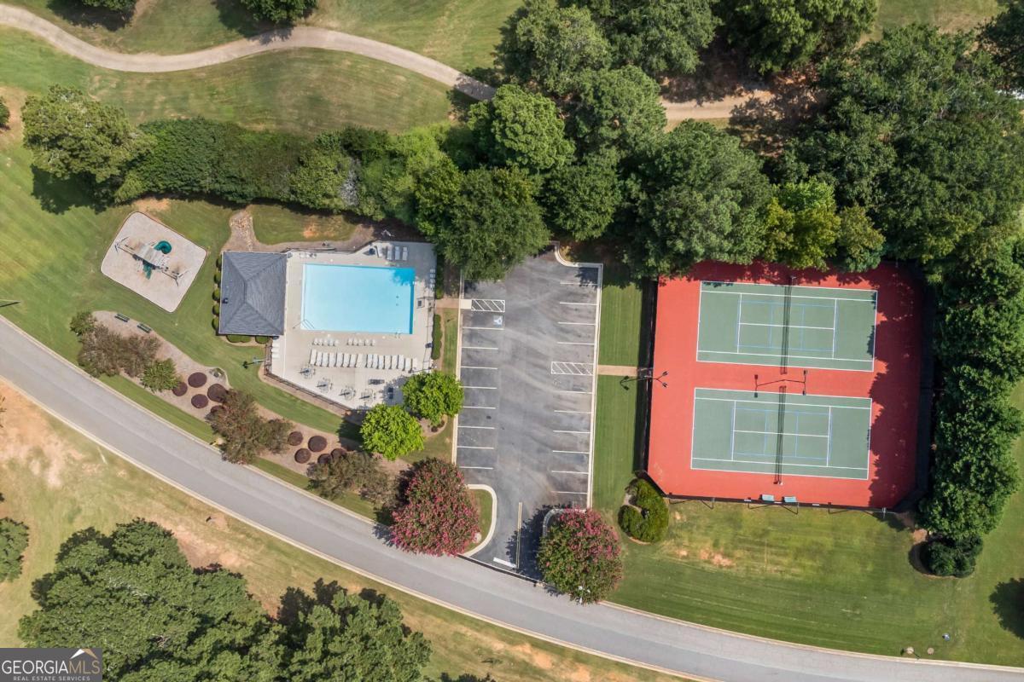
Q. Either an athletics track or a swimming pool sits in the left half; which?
swimming pool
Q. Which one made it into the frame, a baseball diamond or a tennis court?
tennis court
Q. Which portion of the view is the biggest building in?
left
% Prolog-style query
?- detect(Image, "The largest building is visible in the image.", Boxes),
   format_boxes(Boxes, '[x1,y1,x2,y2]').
[218,250,294,336]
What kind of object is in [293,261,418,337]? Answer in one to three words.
swimming pool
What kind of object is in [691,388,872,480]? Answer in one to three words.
tennis court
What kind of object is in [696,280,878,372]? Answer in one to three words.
tennis court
